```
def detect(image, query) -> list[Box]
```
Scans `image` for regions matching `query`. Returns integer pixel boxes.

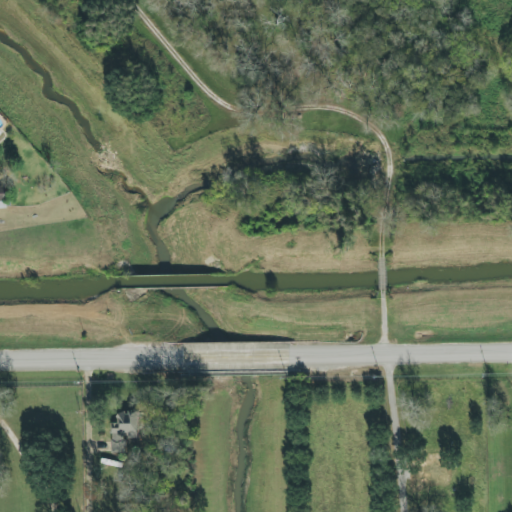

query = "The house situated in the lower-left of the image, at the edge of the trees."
[110,411,139,454]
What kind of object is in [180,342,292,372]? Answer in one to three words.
bridge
